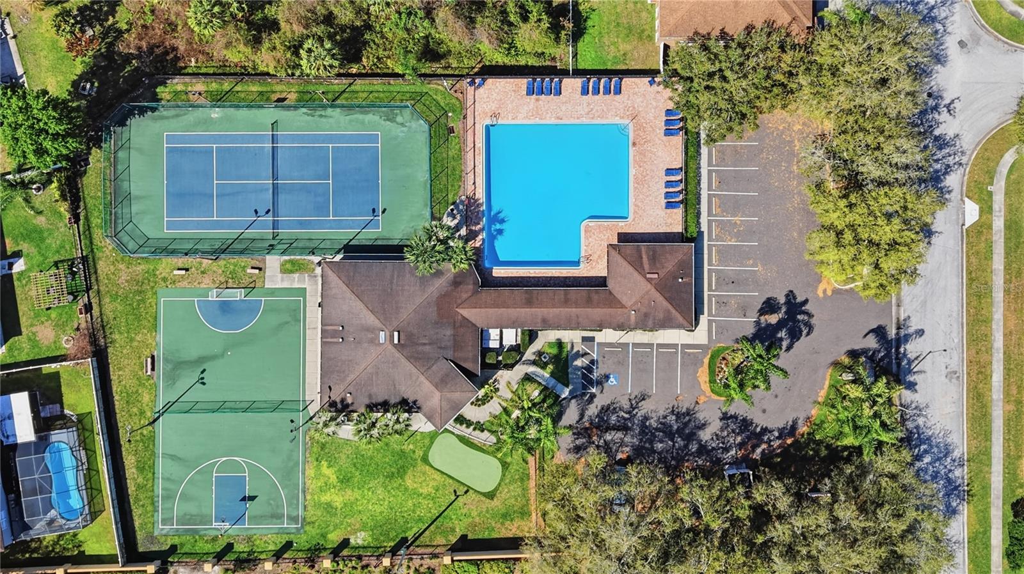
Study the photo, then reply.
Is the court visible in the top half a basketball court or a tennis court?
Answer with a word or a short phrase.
tennis court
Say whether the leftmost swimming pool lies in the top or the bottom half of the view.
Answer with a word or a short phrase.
bottom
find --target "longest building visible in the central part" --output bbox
[317,243,695,431]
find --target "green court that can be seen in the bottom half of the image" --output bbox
[154,288,306,534]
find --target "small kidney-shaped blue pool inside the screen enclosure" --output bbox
[42,439,85,522]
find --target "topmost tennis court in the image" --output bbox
[113,107,433,256]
